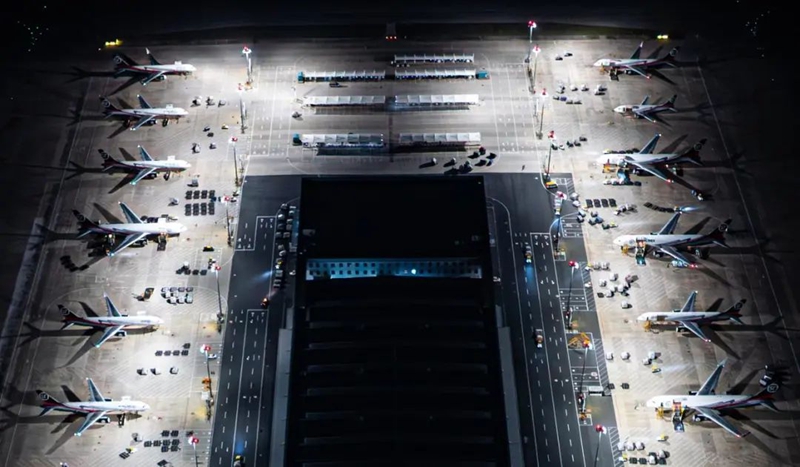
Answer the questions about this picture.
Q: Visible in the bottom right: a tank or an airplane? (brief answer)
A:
airplane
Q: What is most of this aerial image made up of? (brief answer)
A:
paved ground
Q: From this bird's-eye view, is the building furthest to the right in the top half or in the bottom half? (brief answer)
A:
bottom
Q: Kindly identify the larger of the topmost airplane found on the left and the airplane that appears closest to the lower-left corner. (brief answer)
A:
the airplane that appears closest to the lower-left corner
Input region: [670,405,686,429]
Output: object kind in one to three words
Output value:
work vehicle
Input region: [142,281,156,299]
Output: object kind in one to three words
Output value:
work vehicle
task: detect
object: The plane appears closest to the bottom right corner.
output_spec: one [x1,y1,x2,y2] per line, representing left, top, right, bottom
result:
[647,358,788,440]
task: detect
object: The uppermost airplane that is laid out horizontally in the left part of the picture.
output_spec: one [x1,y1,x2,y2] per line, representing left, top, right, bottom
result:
[112,48,195,84]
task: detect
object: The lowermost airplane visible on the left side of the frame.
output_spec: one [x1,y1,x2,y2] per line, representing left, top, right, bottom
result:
[34,378,149,436]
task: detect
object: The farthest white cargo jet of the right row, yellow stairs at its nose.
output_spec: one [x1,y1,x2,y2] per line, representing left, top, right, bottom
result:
[594,44,680,81]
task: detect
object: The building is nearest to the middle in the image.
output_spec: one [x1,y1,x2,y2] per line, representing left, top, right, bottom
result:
[269,174,524,467]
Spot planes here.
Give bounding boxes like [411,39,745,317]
[647,358,788,440]
[614,96,680,122]
[112,48,195,84]
[96,144,191,184]
[597,134,710,184]
[34,378,149,436]
[637,290,748,342]
[614,212,735,269]
[55,295,163,346]
[594,44,680,81]
[72,201,187,254]
[99,94,188,130]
